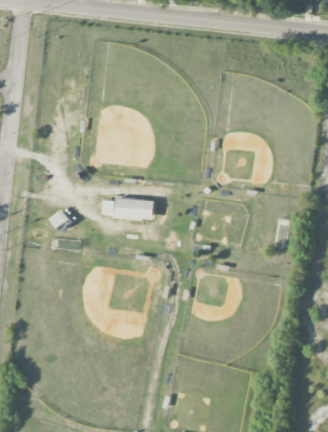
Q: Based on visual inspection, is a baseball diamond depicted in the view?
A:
Yes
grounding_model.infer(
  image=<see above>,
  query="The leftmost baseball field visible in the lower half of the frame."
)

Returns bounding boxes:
[20,253,168,431]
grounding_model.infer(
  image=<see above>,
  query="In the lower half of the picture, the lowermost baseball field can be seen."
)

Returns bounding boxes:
[166,355,252,432]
